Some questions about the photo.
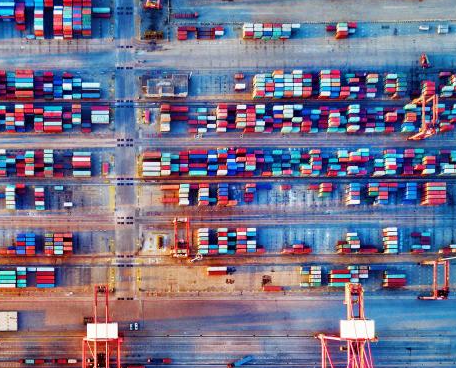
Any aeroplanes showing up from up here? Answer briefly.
No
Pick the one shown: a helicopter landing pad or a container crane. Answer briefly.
container crane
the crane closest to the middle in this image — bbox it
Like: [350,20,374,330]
[169,219,190,262]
